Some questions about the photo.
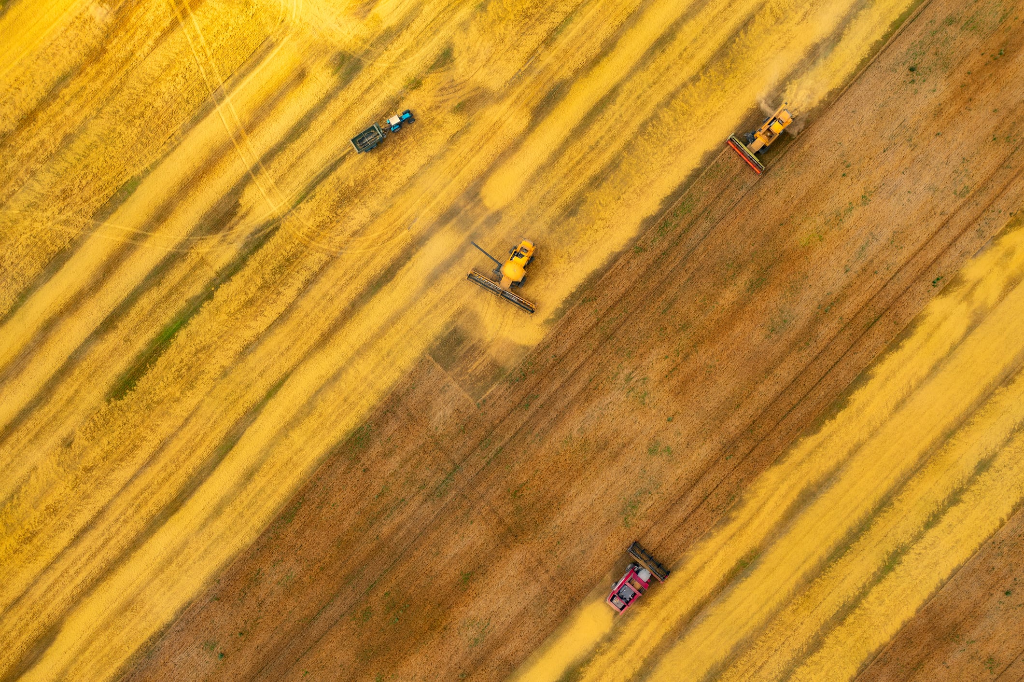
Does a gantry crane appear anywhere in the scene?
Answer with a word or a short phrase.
No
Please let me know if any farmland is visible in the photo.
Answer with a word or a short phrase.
Yes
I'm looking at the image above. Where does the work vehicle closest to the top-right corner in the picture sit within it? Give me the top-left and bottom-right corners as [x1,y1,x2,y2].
[726,101,793,174]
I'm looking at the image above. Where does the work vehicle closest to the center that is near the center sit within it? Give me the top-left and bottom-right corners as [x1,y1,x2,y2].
[467,237,538,315]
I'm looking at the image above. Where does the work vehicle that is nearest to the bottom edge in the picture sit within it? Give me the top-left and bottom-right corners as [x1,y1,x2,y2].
[607,542,672,615]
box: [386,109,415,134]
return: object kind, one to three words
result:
work vehicle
